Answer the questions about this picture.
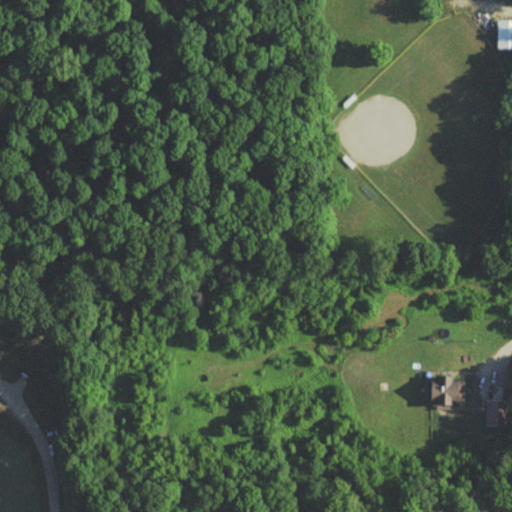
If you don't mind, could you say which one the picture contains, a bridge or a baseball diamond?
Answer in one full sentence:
There is a baseball diamond in the scene.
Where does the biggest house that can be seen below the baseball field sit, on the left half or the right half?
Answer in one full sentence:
The biggest house that can be seen below the baseball field sits on the right side.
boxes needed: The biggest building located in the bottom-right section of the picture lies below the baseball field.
[432,376,466,408]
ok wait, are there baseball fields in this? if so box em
[338,17,506,249]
